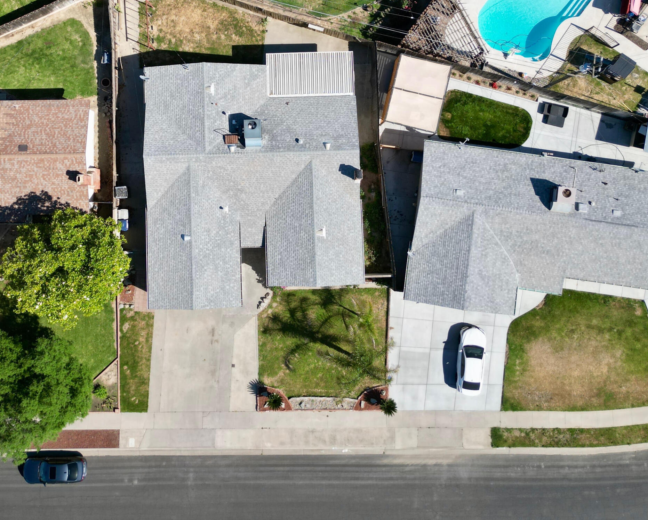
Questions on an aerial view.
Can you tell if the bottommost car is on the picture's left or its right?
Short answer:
left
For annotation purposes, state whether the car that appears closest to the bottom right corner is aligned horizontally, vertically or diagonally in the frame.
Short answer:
vertically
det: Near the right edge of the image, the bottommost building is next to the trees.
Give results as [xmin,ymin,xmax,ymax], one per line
[402,139,648,315]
